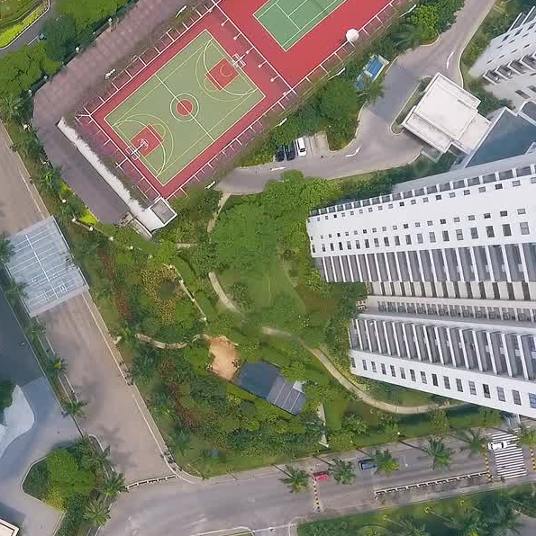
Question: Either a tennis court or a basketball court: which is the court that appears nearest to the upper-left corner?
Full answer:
The court that appears nearest to the upper-left corner can be classified as a basketball court.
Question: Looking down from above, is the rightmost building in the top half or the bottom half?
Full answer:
You can find the rightmost building in the top half.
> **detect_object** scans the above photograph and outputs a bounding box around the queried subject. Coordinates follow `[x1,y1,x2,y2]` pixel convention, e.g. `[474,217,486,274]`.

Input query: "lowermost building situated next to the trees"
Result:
[235,360,306,414]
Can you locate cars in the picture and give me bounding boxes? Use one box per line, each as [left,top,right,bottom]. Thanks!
[284,141,294,159]
[488,440,507,450]
[274,144,285,162]
[295,137,306,155]
[358,459,379,471]
[313,472,328,481]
